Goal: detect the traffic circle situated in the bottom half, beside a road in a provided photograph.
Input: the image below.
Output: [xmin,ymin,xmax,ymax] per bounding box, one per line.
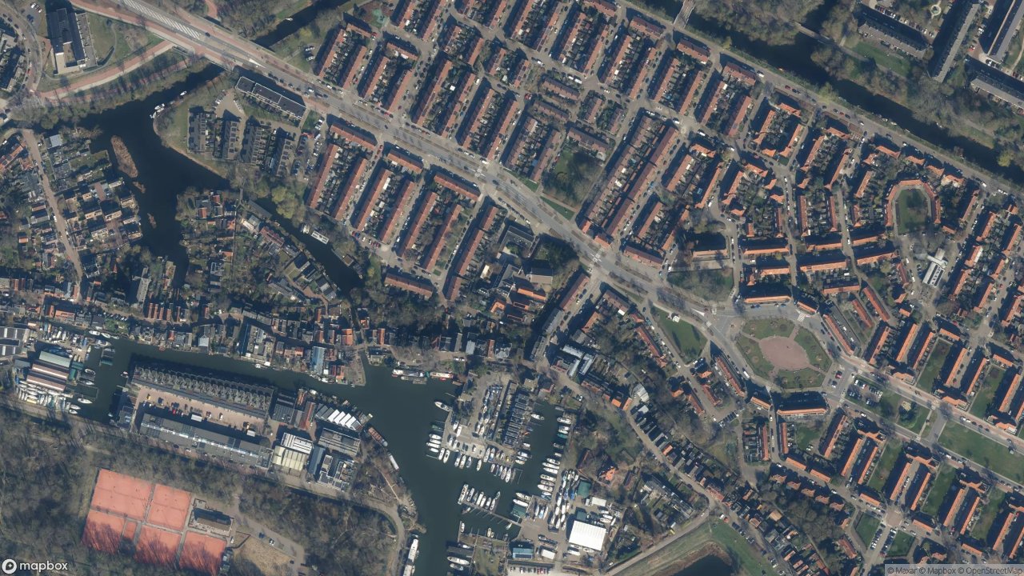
[724,308,845,400]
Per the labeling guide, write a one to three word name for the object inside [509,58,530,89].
house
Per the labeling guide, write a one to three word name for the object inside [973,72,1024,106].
building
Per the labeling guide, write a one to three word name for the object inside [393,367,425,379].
vessel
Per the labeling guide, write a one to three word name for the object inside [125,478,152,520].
tennis court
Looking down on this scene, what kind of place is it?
residential area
